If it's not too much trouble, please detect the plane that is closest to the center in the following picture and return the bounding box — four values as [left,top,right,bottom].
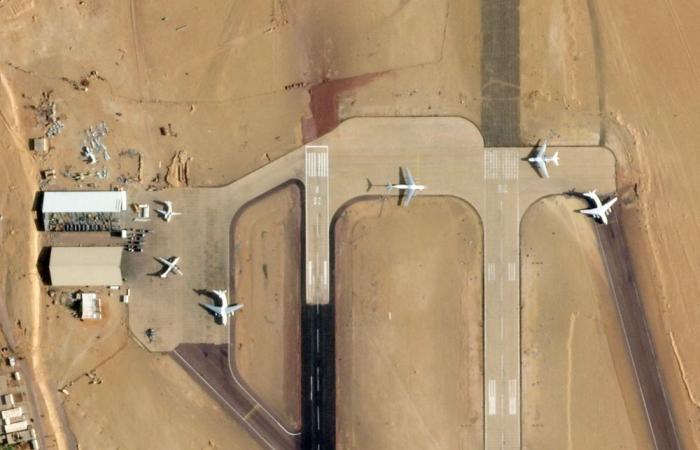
[388,167,426,207]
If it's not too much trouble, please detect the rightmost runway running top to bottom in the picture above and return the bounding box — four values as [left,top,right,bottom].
[482,0,522,450]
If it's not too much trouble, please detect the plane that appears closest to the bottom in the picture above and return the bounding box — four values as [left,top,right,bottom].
[204,291,244,326]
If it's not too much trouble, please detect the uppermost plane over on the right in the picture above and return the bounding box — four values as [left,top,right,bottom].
[528,140,558,178]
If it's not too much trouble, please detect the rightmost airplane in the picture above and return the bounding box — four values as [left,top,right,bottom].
[579,189,615,224]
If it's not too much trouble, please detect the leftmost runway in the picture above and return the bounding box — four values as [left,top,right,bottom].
[300,146,336,450]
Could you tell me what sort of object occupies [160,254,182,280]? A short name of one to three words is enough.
airplane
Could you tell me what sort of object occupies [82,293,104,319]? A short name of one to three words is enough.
building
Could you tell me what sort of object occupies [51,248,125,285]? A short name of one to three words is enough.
hangar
